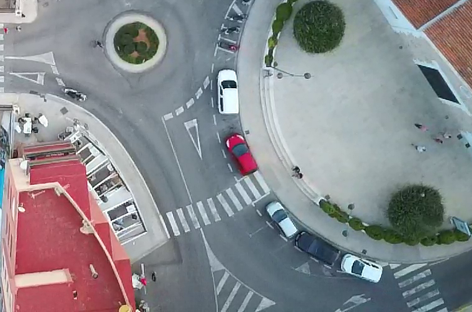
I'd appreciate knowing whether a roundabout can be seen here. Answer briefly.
Yes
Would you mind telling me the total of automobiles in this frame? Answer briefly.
five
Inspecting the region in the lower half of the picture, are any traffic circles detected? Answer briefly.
No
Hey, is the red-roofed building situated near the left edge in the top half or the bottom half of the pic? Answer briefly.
bottom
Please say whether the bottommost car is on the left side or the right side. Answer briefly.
right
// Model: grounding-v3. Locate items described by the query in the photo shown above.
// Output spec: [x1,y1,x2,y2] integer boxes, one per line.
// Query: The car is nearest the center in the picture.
[224,132,258,178]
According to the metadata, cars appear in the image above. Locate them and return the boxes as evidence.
[216,69,242,115]
[224,132,258,178]
[338,251,386,284]
[264,199,300,242]
[293,229,343,268]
